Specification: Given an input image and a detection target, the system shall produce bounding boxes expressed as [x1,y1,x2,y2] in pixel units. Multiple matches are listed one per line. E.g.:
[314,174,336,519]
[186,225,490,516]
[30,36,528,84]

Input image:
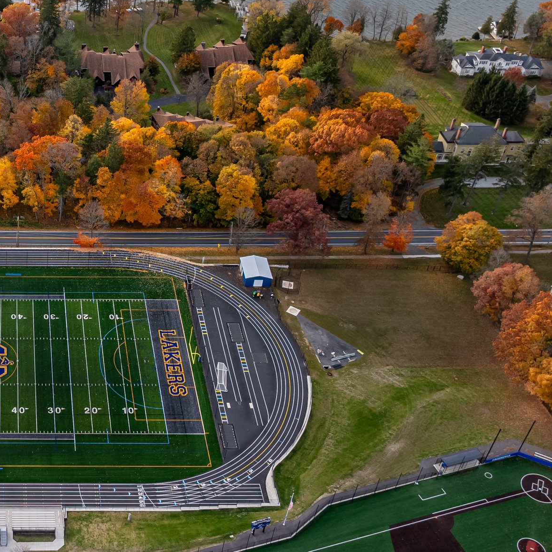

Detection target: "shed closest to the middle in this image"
[239,254,274,286]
